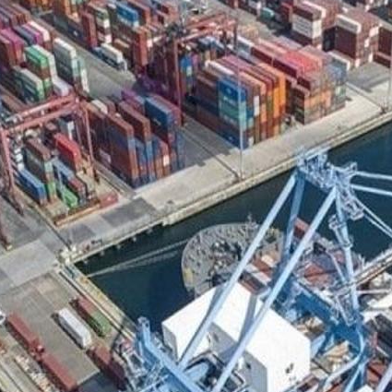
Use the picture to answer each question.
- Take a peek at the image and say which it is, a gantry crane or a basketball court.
gantry crane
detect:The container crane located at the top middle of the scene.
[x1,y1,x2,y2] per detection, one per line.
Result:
[152,5,239,128]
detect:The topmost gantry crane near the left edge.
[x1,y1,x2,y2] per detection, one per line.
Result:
[3,91,98,221]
